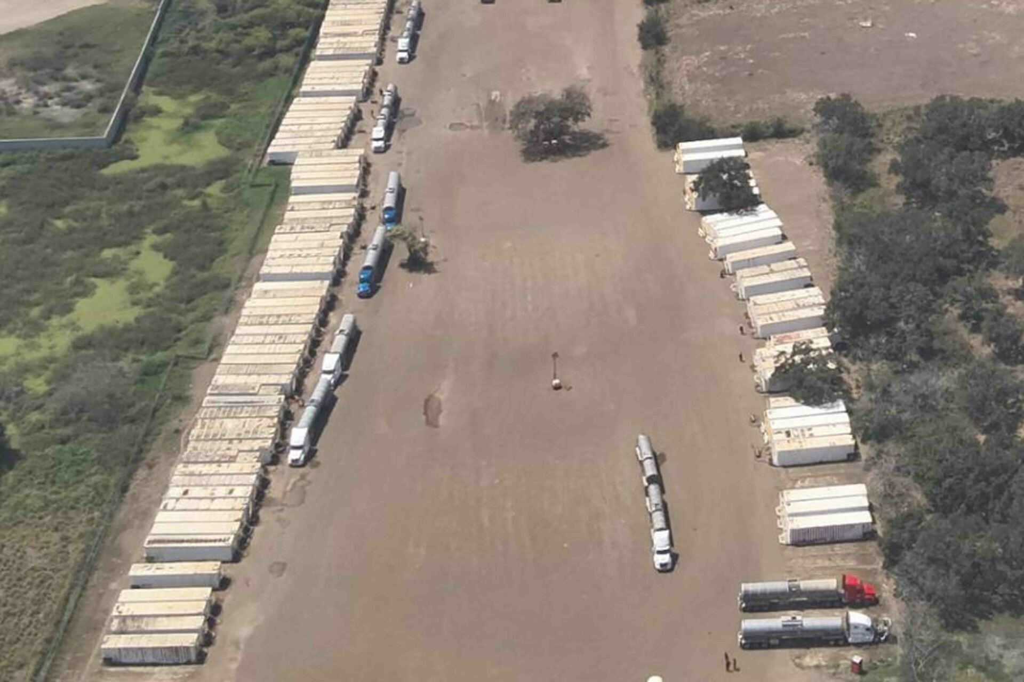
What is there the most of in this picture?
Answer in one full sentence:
What you mostly see from above here is paved ground.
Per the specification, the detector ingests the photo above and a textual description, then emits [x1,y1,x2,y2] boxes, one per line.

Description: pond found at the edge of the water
[0,86,242,401]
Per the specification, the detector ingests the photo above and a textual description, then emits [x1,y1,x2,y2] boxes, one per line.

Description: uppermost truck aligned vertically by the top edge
[397,0,421,63]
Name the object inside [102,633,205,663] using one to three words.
trailer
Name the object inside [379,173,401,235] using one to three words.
truck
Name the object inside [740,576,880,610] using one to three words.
truck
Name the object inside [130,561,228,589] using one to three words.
trailer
